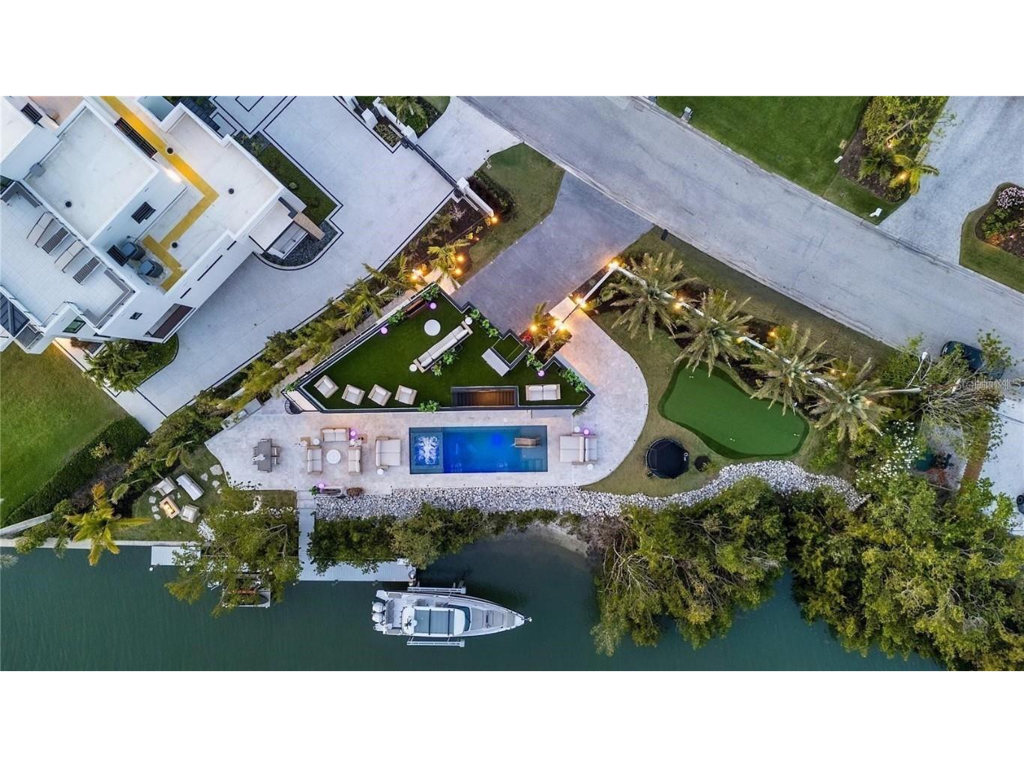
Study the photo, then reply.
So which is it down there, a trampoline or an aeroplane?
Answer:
trampoline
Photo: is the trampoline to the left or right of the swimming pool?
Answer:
on the right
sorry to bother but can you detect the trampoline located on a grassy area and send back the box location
[644,437,691,481]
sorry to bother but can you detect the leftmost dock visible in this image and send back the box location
[148,546,268,575]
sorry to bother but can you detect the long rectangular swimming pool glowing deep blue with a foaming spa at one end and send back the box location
[409,427,548,473]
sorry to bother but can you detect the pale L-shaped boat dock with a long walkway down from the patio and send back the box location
[291,507,418,588]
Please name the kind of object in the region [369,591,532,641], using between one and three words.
boat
